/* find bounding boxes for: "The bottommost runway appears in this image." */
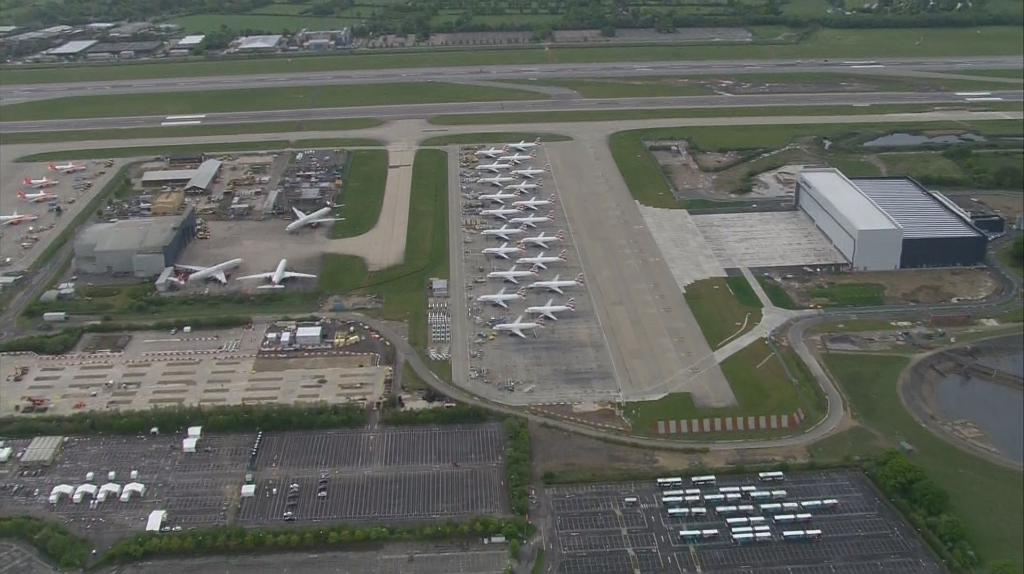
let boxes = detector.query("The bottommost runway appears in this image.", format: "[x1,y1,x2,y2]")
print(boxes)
[0,90,1024,132]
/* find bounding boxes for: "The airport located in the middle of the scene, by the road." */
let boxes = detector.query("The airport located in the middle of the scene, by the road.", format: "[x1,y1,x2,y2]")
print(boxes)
[0,56,1024,408]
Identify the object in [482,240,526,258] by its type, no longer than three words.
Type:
airplane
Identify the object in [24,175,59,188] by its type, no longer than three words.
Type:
airplane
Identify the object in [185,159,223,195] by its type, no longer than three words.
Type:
building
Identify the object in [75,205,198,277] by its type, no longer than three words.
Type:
hangar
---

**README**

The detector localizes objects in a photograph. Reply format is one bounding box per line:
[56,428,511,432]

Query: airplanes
[493,315,545,337]
[475,158,511,172]
[475,144,505,157]
[479,188,517,203]
[507,137,537,149]
[238,259,313,287]
[287,197,338,232]
[481,222,523,239]
[21,189,57,202]
[525,298,576,320]
[478,171,515,185]
[477,285,526,307]
[174,259,242,284]
[487,264,534,283]
[51,161,86,173]
[24,175,59,188]
[525,229,565,247]
[516,249,561,268]
[513,163,546,177]
[482,240,526,258]
[519,194,552,209]
[509,211,550,227]
[529,274,578,294]
[498,150,532,163]
[505,177,543,192]
[480,202,520,218]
